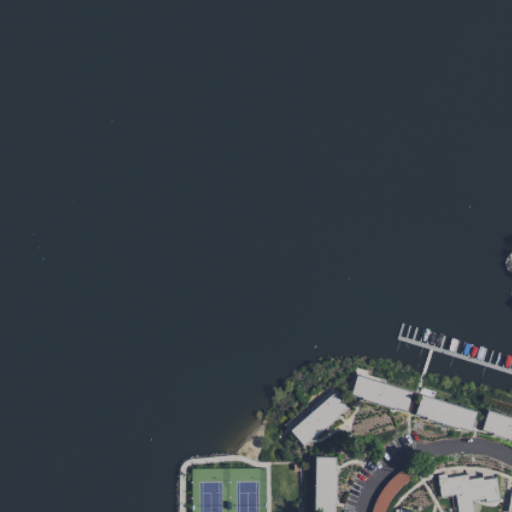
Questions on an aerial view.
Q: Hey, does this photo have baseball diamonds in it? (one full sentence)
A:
No, the scene contains no baseball diamond.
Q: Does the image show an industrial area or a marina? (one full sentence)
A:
The area seen from above is a marina.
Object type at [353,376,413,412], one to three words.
building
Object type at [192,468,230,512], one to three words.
tennis court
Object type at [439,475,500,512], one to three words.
building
